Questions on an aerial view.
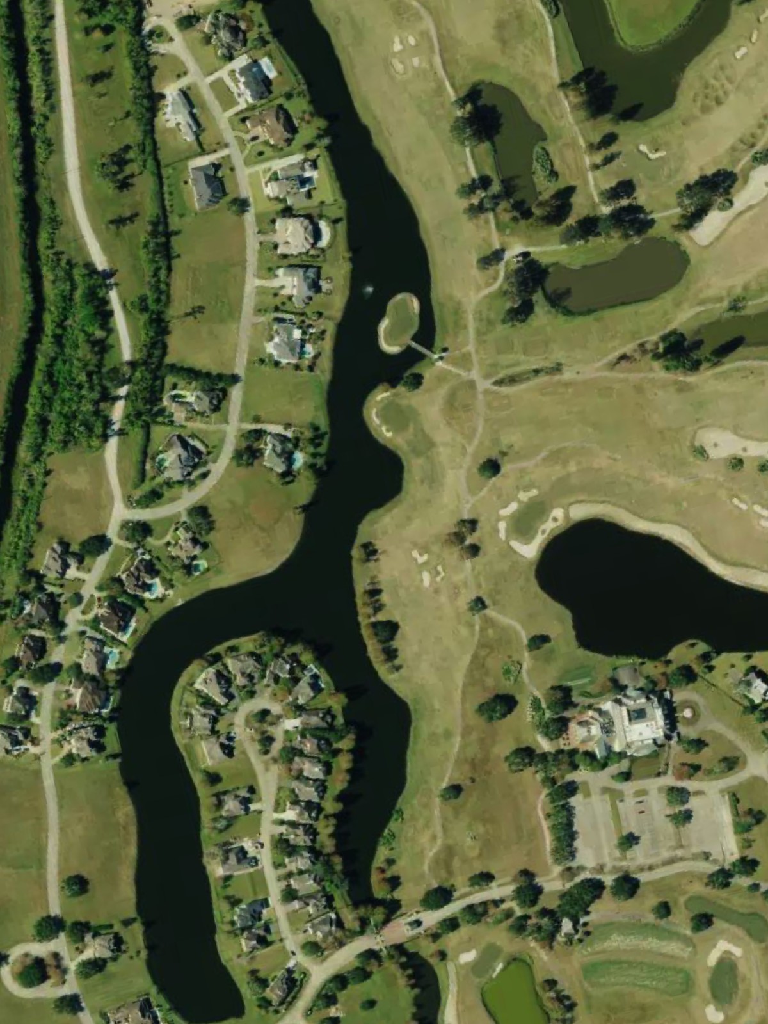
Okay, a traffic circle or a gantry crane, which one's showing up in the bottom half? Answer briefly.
traffic circle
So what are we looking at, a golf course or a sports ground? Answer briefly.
golf course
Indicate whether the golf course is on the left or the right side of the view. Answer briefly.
right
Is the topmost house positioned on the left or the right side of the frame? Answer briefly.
left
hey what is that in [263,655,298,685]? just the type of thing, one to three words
house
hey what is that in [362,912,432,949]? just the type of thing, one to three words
bridge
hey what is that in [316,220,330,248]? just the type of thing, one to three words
swimming pool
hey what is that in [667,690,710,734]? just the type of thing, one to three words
roundabout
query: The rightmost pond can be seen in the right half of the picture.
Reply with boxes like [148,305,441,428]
[695,310,768,351]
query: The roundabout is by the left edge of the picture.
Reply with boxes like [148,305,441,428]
[1,940,73,998]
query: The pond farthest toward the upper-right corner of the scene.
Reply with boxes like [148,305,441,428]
[558,0,732,122]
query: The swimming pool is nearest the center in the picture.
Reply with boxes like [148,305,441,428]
[291,451,303,470]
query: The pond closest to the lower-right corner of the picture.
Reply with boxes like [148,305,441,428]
[481,957,549,1024]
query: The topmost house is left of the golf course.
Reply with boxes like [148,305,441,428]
[206,13,248,57]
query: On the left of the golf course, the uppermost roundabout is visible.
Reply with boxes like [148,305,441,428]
[235,695,286,765]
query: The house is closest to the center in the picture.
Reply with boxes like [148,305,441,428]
[260,430,298,470]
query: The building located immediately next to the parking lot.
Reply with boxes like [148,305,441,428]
[576,683,672,760]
